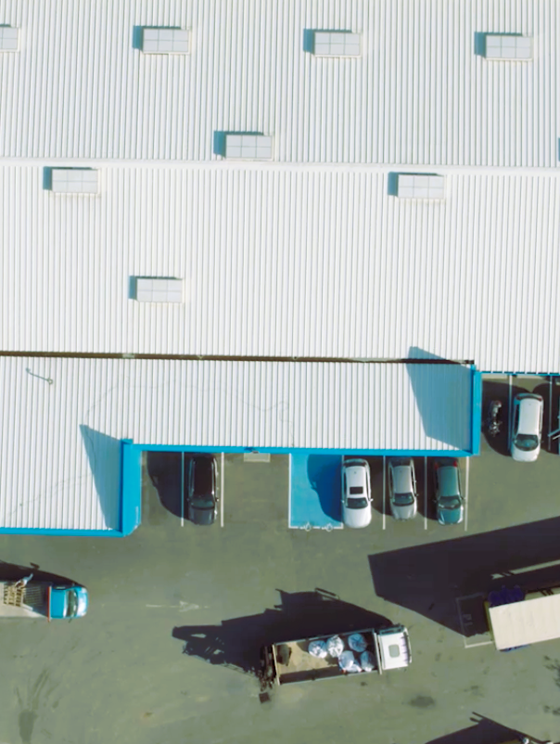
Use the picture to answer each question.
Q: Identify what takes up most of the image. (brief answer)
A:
buildings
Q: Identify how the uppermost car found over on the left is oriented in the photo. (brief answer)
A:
up and down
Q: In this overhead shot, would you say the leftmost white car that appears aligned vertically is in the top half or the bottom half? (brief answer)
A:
bottom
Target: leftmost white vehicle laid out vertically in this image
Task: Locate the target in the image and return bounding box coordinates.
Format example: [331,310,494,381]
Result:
[339,456,375,529]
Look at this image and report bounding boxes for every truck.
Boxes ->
[255,619,416,685]
[487,586,560,656]
[0,582,90,624]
